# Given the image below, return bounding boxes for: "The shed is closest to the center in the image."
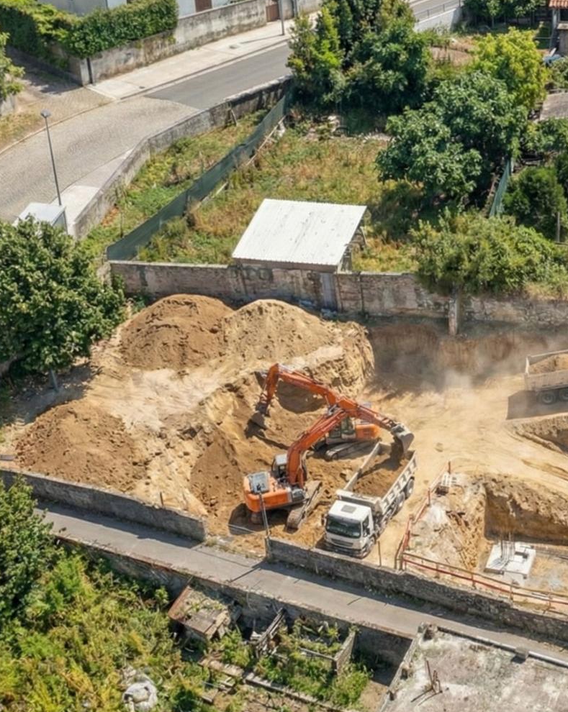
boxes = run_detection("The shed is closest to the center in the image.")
[233,199,366,313]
